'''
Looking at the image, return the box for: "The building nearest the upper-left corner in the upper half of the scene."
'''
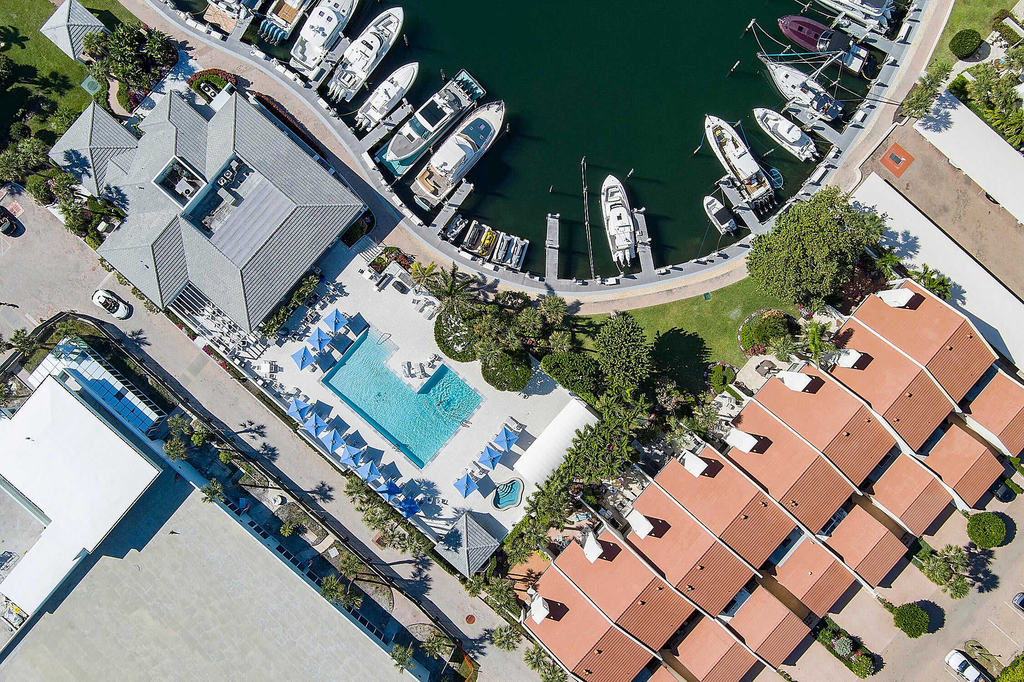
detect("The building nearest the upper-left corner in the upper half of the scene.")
[38,0,115,63]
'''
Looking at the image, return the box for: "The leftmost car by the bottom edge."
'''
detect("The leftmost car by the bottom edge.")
[941,648,986,682]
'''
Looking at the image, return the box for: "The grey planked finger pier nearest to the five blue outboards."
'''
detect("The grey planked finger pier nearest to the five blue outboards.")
[227,0,264,42]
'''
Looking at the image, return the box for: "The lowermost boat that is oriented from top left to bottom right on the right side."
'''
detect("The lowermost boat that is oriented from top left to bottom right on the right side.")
[705,196,735,236]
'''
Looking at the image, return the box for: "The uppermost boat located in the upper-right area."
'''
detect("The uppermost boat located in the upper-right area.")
[819,0,899,36]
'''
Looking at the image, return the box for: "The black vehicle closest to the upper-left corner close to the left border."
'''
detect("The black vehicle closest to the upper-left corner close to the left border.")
[0,201,22,241]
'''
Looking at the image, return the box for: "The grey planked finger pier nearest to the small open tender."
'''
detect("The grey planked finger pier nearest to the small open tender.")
[717,179,762,232]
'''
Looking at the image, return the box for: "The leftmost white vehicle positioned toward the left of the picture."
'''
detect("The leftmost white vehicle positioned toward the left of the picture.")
[93,285,135,323]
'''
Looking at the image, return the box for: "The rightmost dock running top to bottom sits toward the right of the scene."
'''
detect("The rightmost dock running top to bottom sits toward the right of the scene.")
[633,214,654,271]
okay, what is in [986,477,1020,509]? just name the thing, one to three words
car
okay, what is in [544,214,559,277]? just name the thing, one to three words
pier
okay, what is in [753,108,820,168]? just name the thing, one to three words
boat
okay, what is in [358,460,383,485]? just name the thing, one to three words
umbrella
